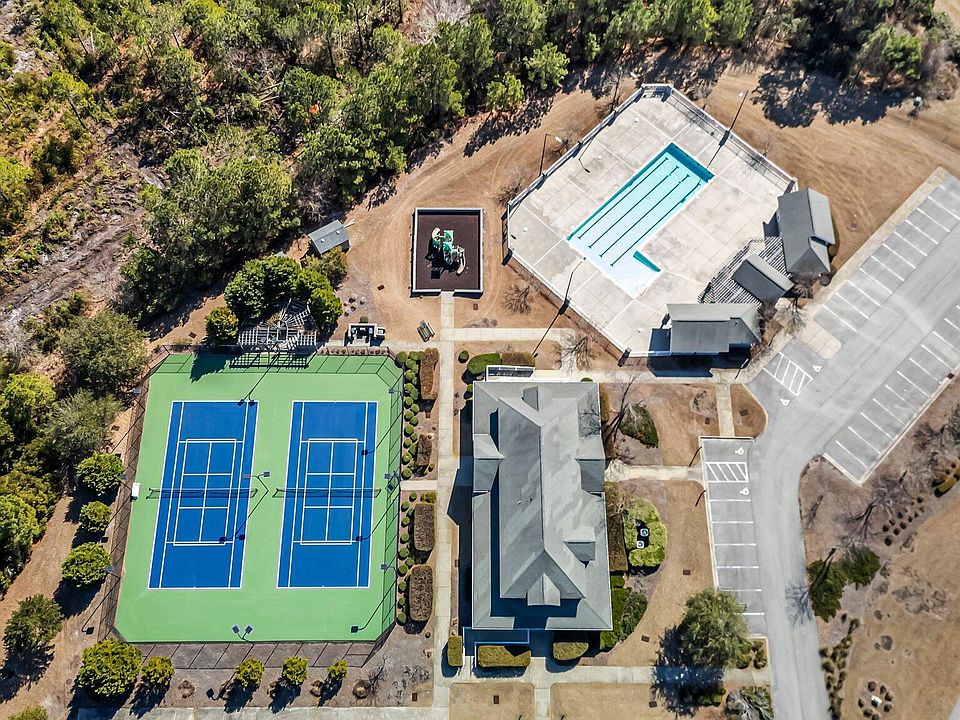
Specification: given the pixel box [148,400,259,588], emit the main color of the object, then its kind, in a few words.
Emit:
blue tennis court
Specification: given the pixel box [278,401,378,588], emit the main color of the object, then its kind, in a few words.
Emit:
blue tennis court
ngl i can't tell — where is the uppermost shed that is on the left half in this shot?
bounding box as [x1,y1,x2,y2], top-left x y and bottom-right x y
[308,219,349,259]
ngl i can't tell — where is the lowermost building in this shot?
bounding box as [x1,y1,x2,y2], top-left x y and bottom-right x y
[472,382,613,630]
